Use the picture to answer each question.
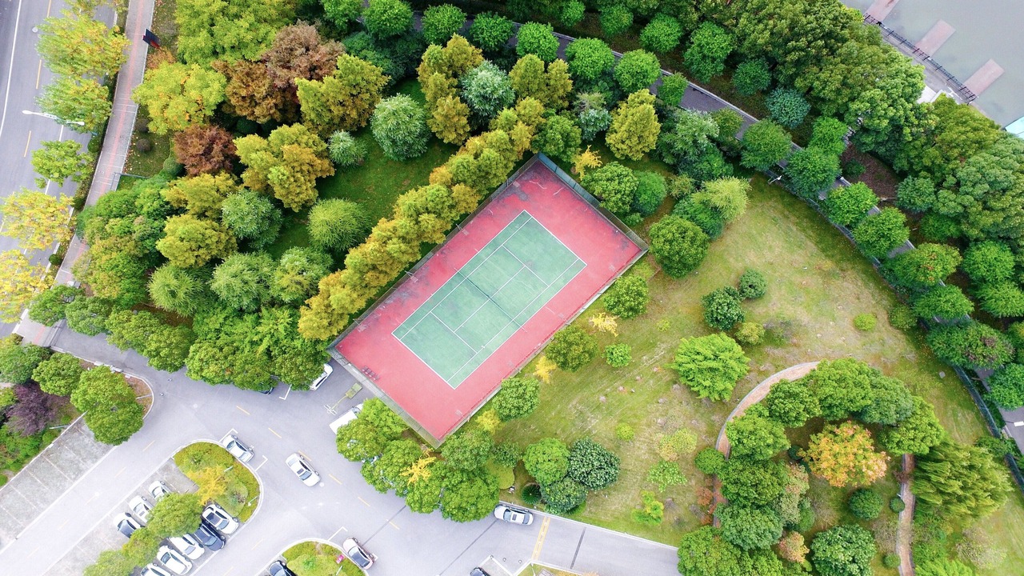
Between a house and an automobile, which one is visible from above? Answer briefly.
automobile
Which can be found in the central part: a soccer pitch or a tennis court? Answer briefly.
tennis court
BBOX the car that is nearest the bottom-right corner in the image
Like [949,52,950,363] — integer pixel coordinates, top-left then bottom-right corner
[494,503,533,525]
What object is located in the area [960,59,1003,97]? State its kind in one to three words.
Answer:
pier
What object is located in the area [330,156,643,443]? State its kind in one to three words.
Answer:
tennis court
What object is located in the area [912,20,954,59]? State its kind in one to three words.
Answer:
pier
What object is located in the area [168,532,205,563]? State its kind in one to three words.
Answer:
car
